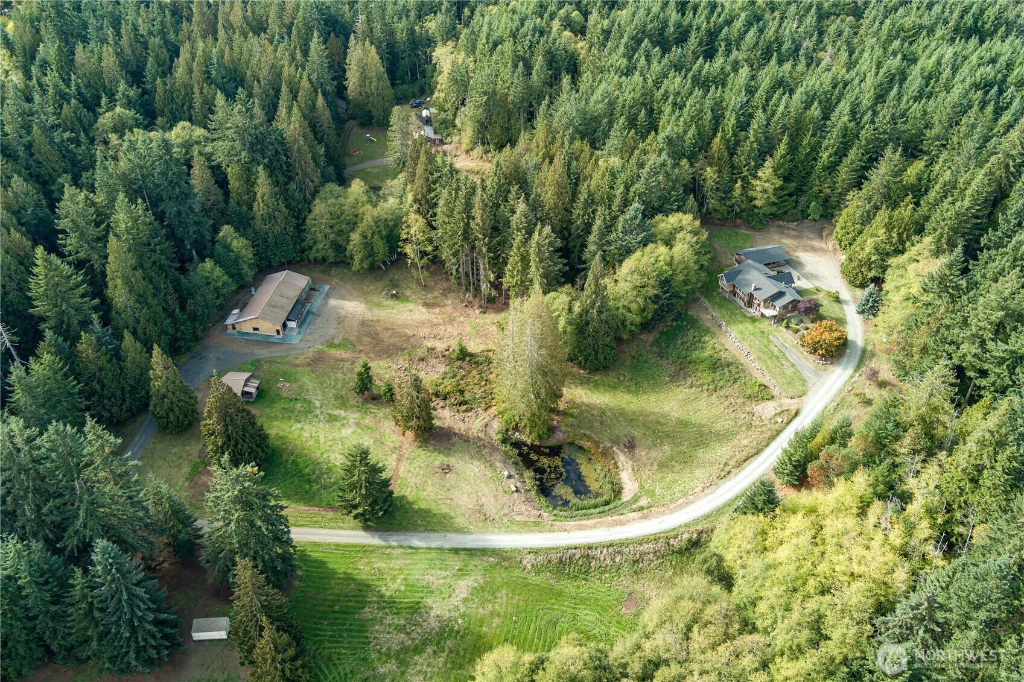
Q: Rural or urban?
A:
rural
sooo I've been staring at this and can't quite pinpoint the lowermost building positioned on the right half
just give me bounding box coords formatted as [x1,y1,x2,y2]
[714,259,805,324]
